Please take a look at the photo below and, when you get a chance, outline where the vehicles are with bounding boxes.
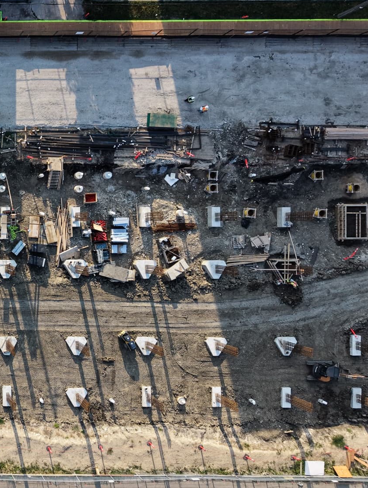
[305,359,358,381]
[114,326,138,353]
